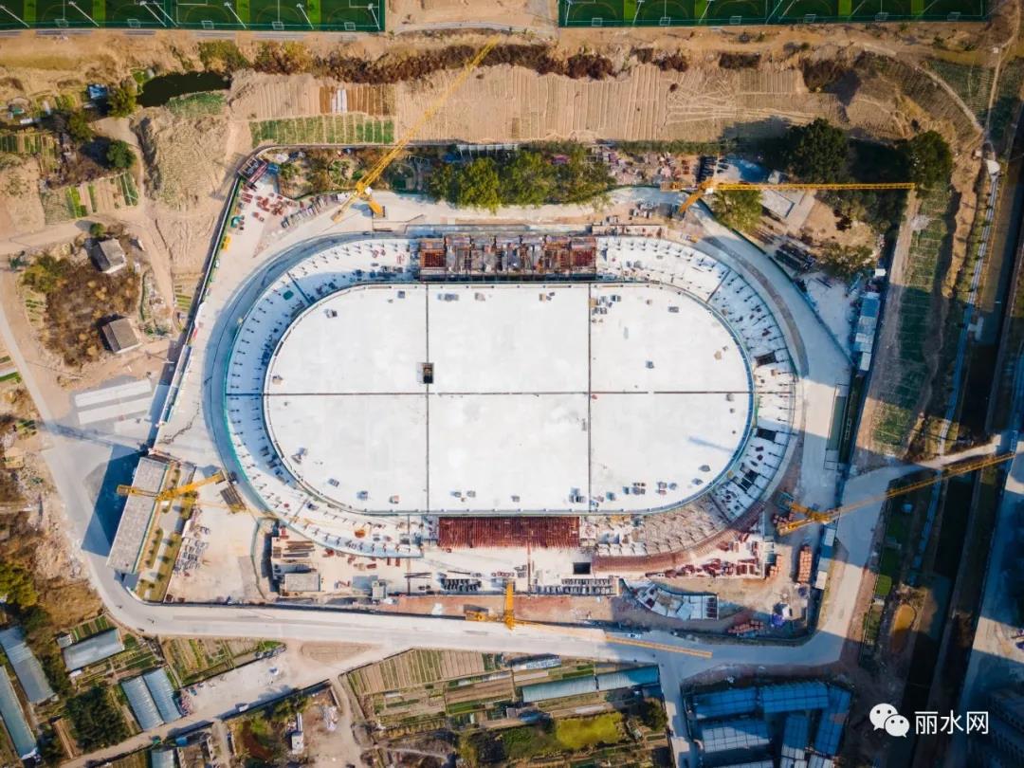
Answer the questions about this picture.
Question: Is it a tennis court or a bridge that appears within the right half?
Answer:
bridge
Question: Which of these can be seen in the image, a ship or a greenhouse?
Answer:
greenhouse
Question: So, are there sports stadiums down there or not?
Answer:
Yes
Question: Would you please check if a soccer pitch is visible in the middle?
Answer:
No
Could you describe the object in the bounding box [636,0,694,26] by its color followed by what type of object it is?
green soccer field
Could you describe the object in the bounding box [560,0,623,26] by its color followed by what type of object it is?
green soccer field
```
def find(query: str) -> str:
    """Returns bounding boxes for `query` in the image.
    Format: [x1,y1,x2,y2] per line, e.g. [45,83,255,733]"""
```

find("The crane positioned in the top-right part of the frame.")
[658,181,919,219]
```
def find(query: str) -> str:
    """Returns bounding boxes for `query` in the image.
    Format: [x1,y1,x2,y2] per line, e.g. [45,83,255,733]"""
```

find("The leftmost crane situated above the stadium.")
[331,39,499,225]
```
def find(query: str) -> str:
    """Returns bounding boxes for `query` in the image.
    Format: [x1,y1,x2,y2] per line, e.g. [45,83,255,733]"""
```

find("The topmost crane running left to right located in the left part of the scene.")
[115,466,367,535]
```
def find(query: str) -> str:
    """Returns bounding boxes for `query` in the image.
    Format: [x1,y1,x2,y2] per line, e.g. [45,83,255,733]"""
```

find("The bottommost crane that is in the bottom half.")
[464,572,714,659]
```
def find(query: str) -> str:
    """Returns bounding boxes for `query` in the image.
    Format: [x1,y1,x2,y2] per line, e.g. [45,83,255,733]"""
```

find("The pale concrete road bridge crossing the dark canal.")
[925,429,1016,470]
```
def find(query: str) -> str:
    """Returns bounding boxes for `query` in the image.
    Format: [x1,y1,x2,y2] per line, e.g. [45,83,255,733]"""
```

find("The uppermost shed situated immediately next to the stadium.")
[163,347,193,419]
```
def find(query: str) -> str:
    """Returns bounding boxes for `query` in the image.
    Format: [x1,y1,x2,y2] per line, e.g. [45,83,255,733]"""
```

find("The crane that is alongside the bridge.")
[775,452,1018,534]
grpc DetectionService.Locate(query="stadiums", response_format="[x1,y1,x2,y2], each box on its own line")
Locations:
[223,234,799,571]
